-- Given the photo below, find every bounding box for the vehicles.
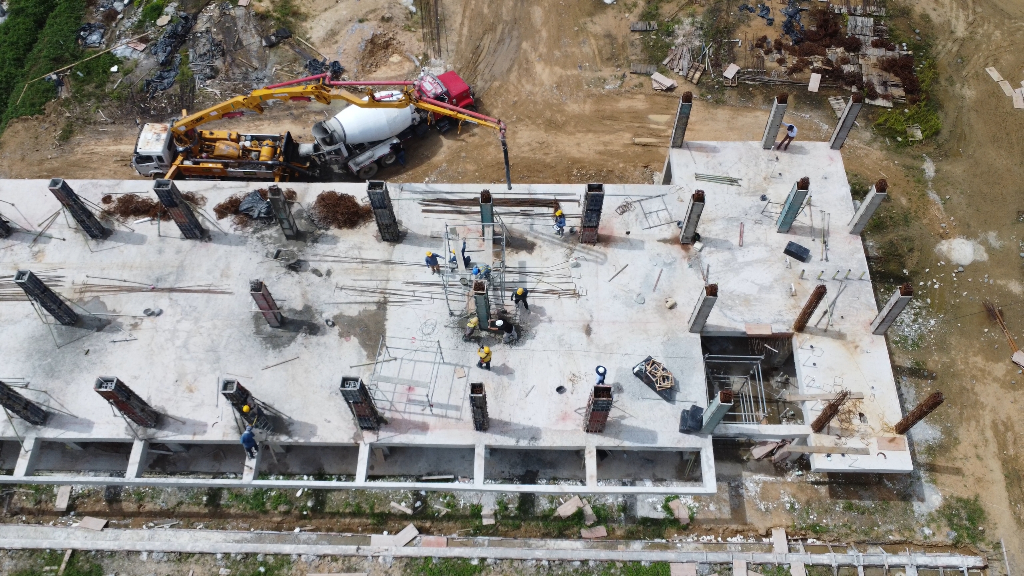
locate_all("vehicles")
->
[296,66,483,182]
[123,72,513,190]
